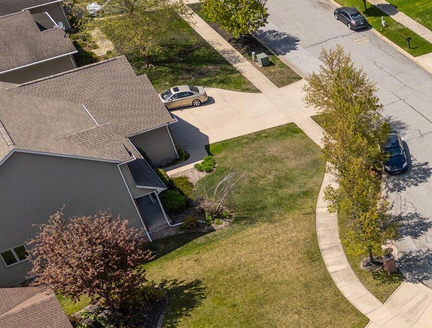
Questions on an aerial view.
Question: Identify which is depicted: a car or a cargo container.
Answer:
car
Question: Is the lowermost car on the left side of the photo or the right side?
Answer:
right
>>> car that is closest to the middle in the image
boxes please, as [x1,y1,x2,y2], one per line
[162,86,207,112]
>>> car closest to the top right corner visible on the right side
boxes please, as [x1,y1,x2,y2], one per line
[333,3,368,26]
